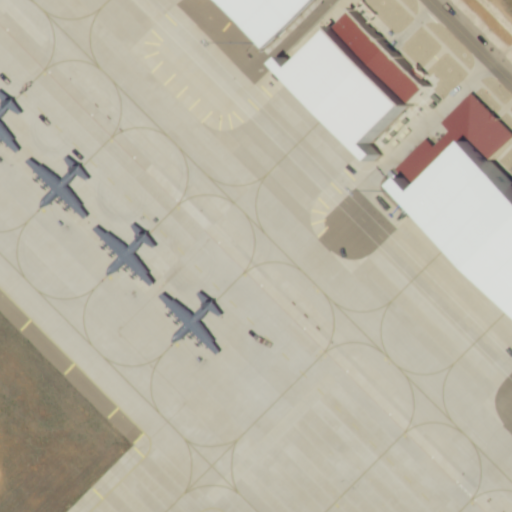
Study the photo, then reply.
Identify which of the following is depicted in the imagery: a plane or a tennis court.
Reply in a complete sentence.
This aerial view contains a plane.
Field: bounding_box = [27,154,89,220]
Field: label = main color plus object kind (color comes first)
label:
gray airplane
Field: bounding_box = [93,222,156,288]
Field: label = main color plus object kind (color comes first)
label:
gray airplane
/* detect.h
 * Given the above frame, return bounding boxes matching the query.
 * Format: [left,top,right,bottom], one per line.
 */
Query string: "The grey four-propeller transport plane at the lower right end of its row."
[159,290,222,355]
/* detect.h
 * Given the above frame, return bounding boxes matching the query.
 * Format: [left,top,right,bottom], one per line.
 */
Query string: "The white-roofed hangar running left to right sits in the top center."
[212,0,314,48]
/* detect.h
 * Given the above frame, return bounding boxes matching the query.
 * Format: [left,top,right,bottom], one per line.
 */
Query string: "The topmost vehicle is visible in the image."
[442,2,457,16]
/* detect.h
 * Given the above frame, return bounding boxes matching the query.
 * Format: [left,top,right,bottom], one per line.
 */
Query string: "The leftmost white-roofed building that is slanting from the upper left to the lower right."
[265,30,404,160]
